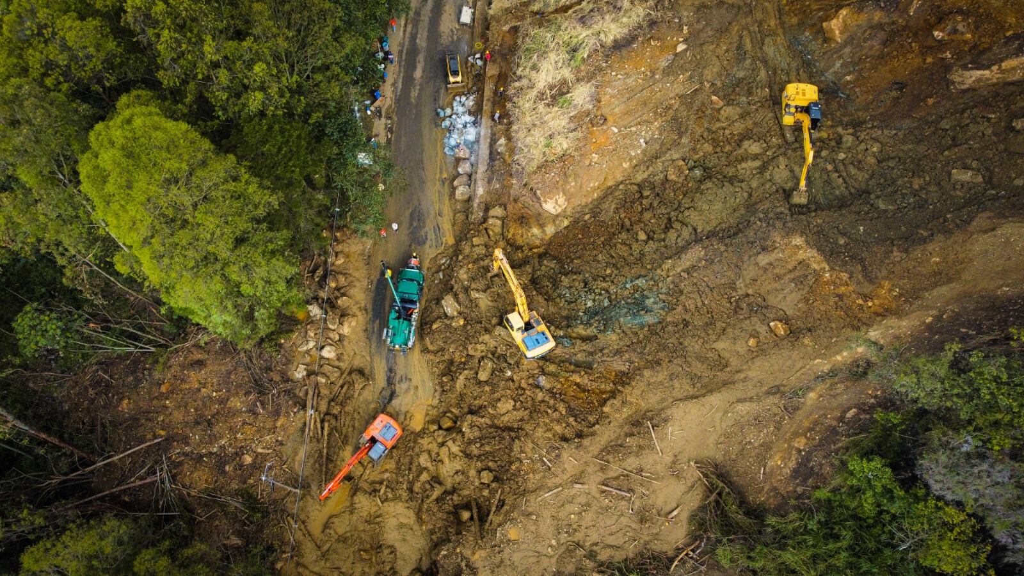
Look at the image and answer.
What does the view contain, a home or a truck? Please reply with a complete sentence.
Visible in the photo is a truck.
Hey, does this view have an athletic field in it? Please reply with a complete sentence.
No, the picture doesn't show any athletic field.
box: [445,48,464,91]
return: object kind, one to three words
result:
work vehicle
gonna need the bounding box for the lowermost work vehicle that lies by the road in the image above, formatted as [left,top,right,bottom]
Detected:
[322,405,409,498]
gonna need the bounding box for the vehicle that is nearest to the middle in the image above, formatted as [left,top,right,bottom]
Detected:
[492,252,561,371]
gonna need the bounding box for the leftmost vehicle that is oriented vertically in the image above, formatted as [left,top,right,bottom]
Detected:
[380,254,422,351]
